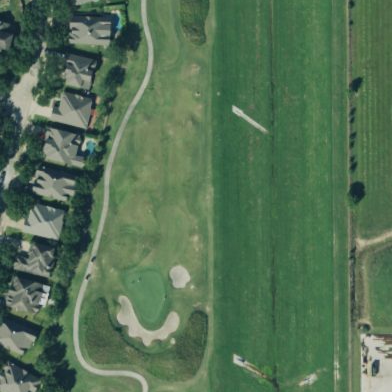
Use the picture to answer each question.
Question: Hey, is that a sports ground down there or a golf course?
golf course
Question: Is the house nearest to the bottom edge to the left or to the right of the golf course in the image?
to the left of it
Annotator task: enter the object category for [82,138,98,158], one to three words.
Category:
swimming pool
